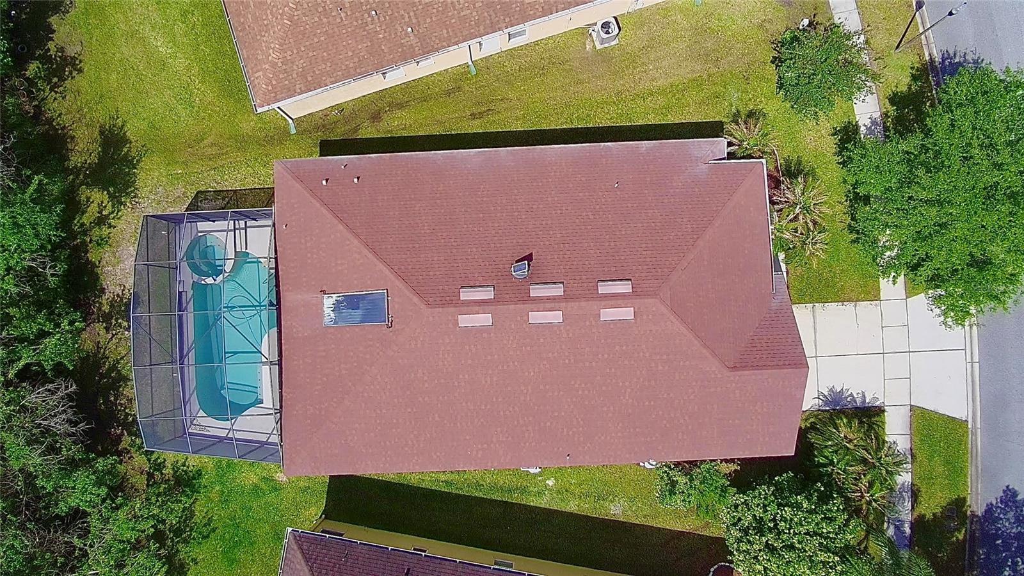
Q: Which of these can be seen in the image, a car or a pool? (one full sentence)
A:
The one in the frame is a pool.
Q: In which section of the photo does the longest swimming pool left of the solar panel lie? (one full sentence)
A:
The longest swimming pool left of the solar panel is in the left part of the image.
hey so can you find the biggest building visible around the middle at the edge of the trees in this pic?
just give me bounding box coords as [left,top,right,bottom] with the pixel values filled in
[271,136,810,481]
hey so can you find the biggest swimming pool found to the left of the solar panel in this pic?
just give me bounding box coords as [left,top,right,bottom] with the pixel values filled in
[192,250,280,421]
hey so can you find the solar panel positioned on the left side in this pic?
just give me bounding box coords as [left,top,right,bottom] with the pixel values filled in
[319,290,393,329]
